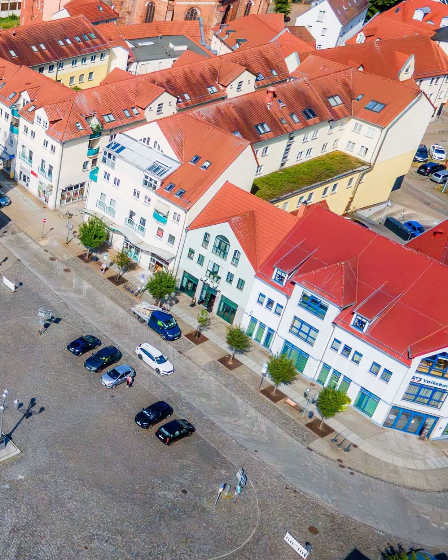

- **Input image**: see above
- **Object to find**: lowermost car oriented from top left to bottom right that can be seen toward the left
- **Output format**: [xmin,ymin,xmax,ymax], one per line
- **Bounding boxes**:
[133,342,175,376]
